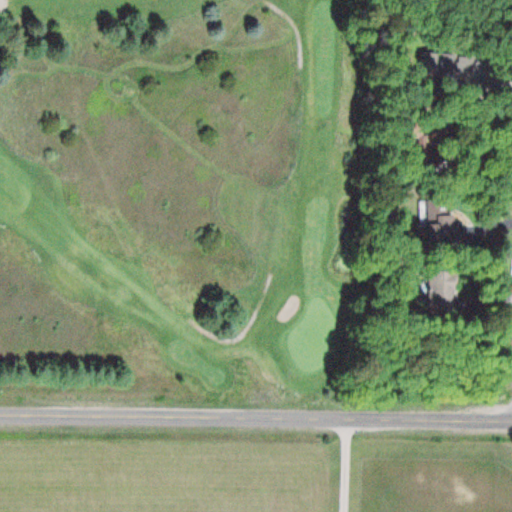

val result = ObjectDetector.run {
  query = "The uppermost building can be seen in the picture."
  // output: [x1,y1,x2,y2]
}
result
[428,51,477,78]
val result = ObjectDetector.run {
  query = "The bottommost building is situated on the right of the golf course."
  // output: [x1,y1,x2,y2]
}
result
[430,271,459,309]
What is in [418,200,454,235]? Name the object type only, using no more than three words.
house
